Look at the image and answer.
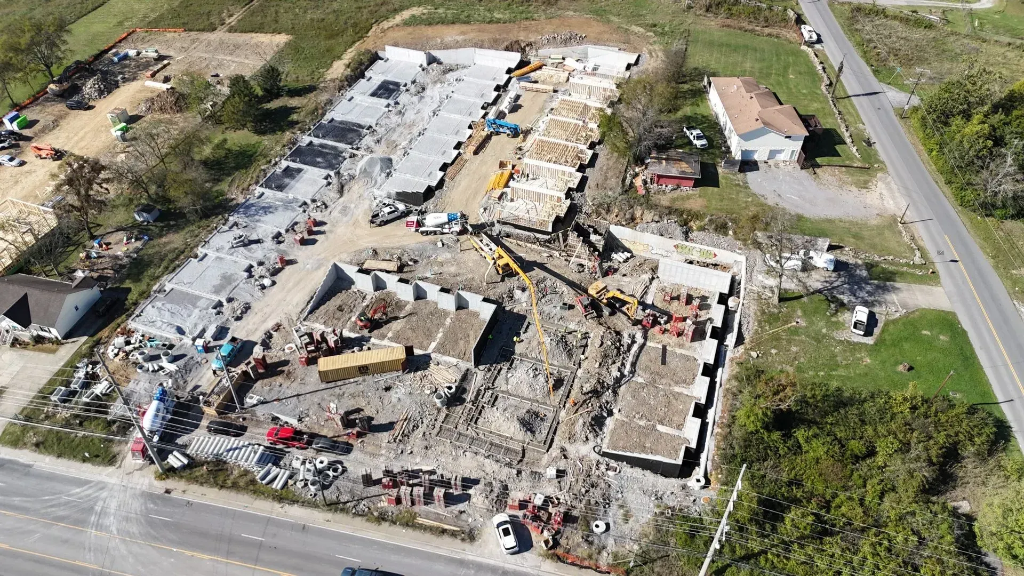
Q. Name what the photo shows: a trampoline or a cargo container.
cargo container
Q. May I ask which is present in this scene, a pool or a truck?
truck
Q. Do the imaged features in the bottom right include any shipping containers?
No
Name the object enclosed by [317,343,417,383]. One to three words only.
shipping container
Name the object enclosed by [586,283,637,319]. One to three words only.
work vehicle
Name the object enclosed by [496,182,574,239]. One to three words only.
house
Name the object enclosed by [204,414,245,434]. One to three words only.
car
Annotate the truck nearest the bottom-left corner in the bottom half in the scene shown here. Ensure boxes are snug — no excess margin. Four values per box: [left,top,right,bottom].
[124,379,171,455]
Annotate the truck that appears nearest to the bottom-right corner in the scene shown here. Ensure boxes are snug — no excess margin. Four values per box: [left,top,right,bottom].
[849,303,873,333]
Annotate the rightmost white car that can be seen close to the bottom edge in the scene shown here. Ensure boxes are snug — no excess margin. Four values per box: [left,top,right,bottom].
[493,511,521,553]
